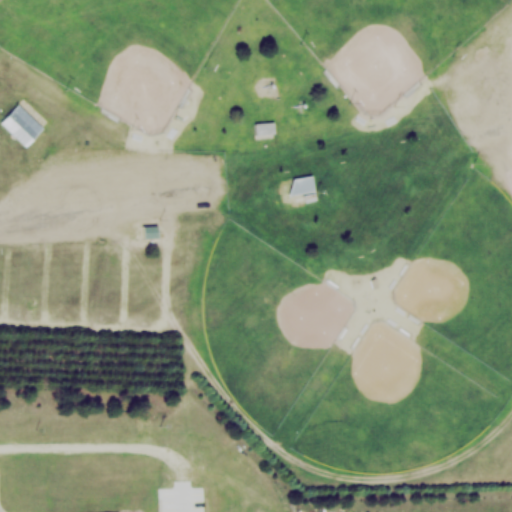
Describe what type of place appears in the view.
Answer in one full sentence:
The picture captures a sports ground.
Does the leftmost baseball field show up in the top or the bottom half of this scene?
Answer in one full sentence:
You can find the leftmost baseball field in the top half.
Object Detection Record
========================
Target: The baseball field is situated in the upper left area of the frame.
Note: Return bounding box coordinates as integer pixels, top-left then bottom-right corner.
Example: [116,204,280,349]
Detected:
[0,0,242,134]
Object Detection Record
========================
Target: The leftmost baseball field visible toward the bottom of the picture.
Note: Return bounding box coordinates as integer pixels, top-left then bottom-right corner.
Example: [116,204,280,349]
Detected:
[204,216,356,440]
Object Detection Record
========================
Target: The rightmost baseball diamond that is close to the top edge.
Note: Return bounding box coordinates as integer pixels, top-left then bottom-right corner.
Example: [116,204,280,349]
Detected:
[268,0,512,112]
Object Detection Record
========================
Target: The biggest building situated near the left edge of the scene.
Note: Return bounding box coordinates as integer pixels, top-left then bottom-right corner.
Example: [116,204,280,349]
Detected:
[1,104,44,148]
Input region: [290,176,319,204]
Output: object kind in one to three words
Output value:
building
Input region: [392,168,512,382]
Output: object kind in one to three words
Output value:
baseball field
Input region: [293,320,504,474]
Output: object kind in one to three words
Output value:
baseball field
